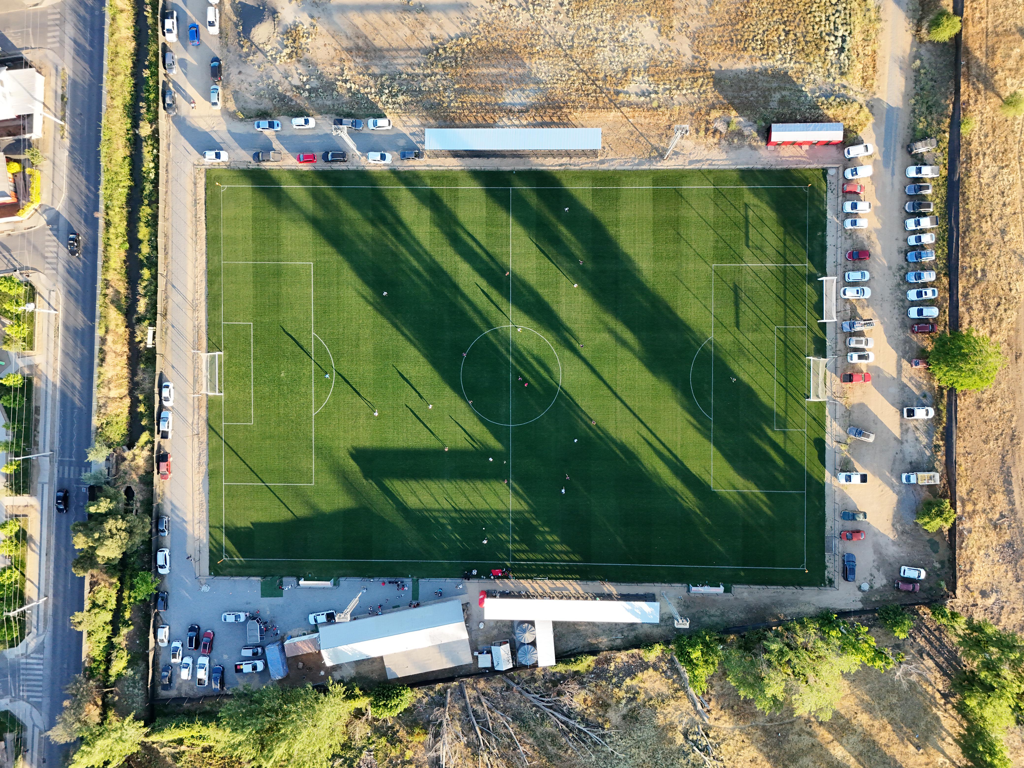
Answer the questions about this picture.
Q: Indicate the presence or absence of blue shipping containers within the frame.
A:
Yes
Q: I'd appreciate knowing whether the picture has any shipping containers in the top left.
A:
No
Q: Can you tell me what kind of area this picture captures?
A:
sports ground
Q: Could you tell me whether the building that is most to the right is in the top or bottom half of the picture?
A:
top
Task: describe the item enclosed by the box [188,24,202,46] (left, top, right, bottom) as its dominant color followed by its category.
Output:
blue car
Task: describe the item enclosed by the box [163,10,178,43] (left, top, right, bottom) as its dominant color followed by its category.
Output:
white vehicle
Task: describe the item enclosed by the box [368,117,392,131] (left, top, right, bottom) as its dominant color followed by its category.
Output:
white car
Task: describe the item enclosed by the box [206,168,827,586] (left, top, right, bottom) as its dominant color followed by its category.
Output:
green soccer field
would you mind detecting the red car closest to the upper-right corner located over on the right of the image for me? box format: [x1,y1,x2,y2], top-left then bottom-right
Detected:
[841,182,864,195]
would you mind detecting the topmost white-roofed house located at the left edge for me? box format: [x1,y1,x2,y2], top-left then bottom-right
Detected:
[0,65,43,137]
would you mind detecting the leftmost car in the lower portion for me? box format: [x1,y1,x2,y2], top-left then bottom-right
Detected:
[56,488,70,513]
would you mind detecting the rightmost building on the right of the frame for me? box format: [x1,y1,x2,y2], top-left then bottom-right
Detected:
[768,123,843,146]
